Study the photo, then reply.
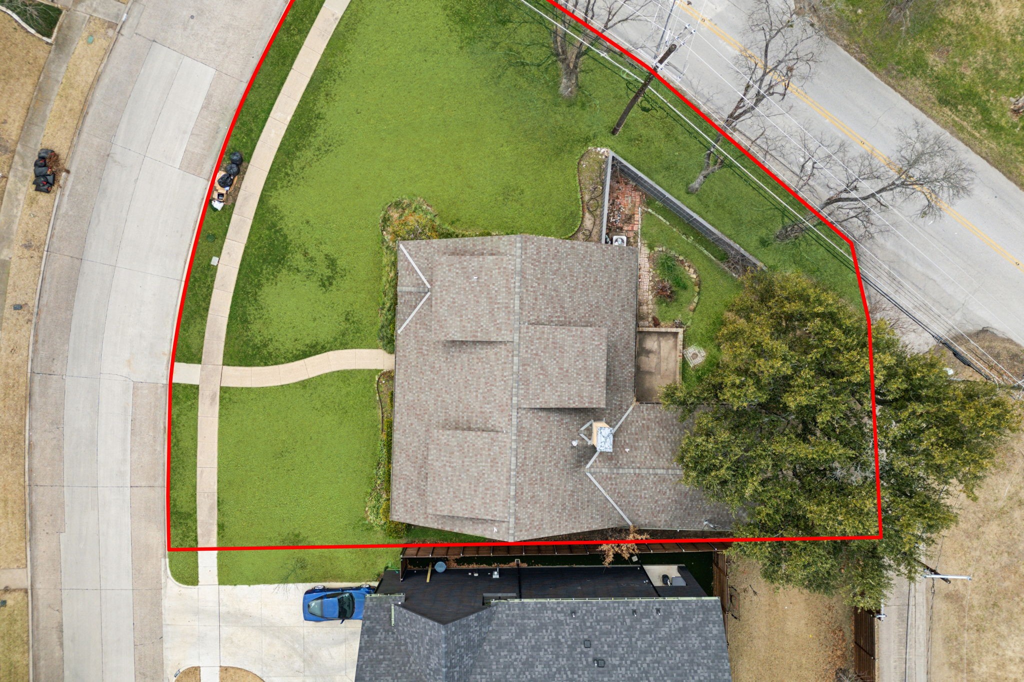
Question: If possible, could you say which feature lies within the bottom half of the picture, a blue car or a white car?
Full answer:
Visible within the bottom half of the picture is a blue car.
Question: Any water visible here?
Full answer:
No, no water is visible.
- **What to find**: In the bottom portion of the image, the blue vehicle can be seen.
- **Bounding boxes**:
[303,588,368,626]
